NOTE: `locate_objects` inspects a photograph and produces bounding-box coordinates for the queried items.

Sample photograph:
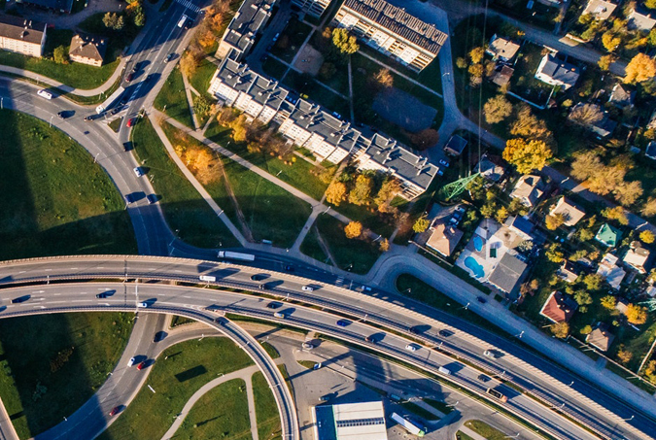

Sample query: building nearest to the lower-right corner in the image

[579,323,616,357]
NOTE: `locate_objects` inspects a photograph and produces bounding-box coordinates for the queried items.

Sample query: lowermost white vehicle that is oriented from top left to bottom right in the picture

[391,412,424,437]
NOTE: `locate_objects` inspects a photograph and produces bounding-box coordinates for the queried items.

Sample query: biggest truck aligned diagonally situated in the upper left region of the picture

[97,85,124,112]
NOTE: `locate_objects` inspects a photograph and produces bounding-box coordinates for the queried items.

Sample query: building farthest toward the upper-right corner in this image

[623,9,656,36]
